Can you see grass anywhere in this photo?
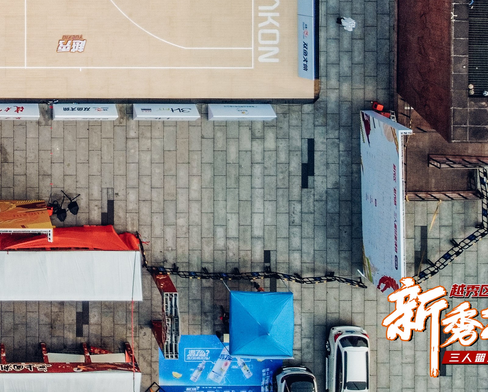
No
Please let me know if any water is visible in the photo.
No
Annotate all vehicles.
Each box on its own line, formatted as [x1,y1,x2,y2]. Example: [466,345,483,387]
[326,325,376,392]
[274,362,317,392]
